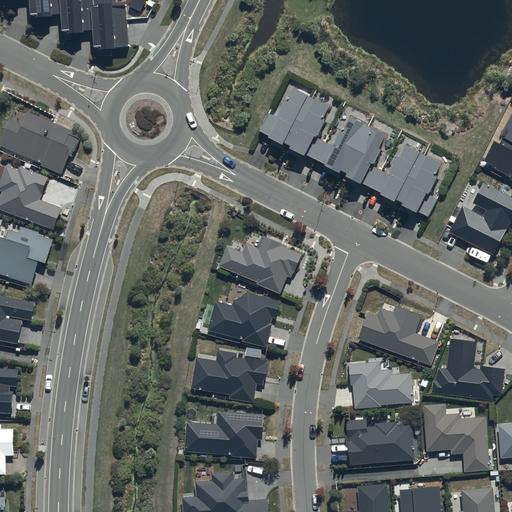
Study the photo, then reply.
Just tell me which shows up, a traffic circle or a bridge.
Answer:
traffic circle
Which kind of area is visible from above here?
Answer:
residential area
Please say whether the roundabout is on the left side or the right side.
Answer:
left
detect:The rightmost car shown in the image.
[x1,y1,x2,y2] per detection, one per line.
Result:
[488,350,503,364]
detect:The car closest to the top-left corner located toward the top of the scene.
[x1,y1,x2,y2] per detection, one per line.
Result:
[66,162,82,175]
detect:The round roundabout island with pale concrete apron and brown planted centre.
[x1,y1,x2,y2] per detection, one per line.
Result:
[102,75,190,163]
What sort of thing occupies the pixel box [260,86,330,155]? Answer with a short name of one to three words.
house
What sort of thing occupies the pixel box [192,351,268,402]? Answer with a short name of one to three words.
house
